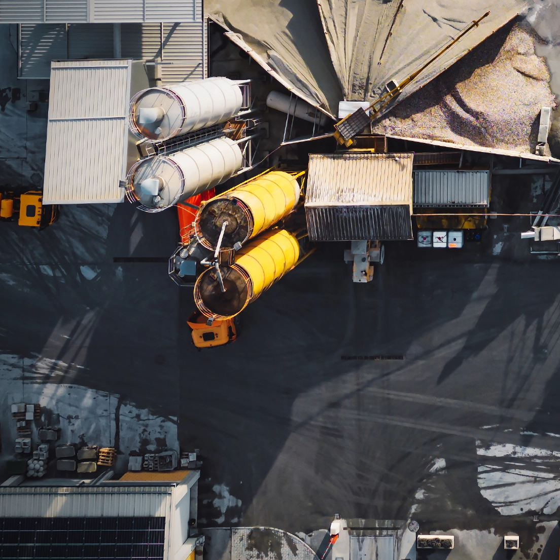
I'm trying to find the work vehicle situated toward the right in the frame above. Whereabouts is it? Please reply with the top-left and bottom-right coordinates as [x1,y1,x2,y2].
[342,241,382,288]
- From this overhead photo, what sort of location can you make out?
industrial area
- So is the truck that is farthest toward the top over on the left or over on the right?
left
